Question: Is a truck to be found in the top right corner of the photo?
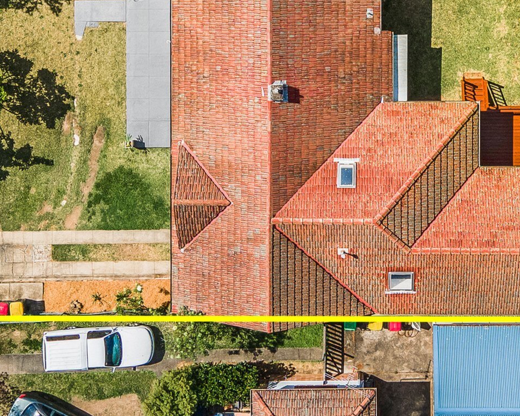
No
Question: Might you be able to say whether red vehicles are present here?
No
